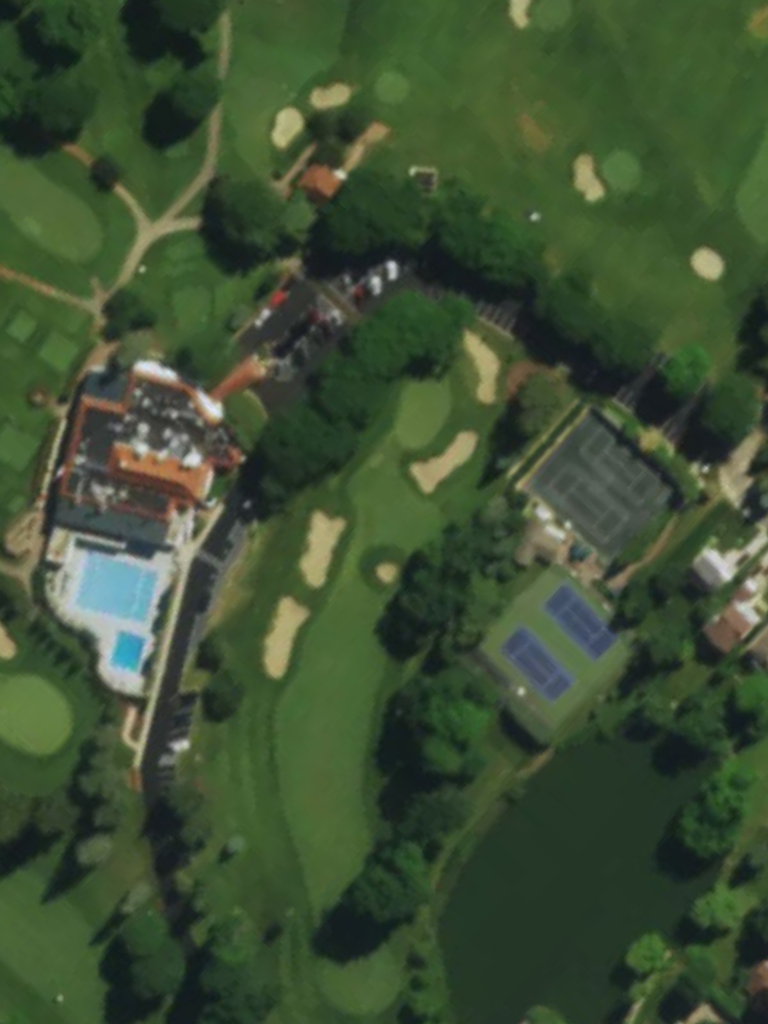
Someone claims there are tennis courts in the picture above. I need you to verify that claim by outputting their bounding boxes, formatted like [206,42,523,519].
[525,448,642,560]
[519,563,637,680]
[559,410,680,526]
[484,605,601,742]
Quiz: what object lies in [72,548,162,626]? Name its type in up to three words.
swimming pool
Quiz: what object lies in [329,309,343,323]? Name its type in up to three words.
car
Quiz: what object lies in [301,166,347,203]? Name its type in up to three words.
shed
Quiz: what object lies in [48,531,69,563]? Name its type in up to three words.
building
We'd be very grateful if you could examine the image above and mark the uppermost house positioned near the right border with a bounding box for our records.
[694,546,734,592]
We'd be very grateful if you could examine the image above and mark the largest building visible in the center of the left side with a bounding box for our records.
[53,351,265,546]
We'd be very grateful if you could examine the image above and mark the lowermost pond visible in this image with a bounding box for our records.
[440,738,713,1024]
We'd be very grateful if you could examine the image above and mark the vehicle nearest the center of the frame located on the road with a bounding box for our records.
[242,497,254,513]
